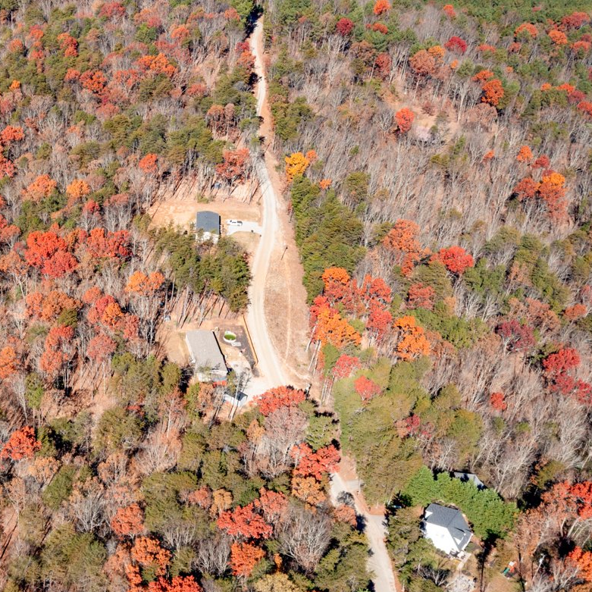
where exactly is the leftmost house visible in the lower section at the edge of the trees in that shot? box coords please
[187,329,229,382]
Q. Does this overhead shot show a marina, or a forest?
forest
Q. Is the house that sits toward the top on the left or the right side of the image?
left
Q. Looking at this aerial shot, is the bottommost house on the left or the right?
right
